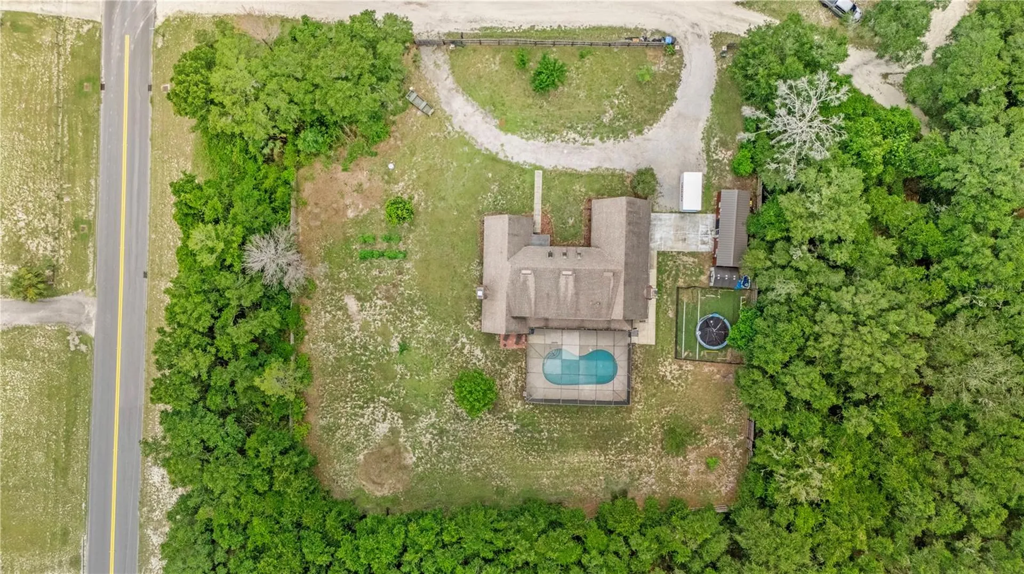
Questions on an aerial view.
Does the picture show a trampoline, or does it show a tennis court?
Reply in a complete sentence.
The image shows a trampoline.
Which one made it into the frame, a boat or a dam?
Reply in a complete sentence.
The image shows a boat.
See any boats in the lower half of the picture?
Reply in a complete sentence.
No, no boat can be made out in the lower half of the picture.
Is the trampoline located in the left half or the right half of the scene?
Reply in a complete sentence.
The trampoline appears in the right half of the scene.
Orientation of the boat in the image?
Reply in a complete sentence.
From this overhead view, the boat appears to run on a diagonal.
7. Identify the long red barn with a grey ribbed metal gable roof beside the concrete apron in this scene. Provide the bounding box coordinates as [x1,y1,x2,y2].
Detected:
[712,188,750,268]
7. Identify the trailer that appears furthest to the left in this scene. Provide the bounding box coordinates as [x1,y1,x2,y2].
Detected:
[678,171,703,218]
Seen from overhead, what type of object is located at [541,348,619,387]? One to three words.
swimming pool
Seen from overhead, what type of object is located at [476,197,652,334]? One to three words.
house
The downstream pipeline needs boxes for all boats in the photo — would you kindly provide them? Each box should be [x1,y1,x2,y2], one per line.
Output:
[405,88,434,115]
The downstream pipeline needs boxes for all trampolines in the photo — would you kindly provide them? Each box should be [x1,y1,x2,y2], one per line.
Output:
[697,312,731,348]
